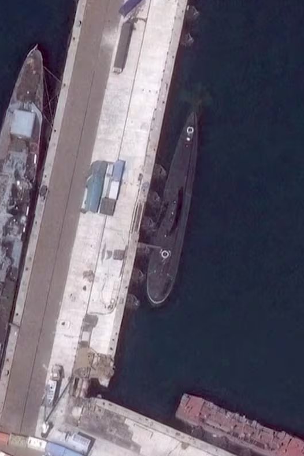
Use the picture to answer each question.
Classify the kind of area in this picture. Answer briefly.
port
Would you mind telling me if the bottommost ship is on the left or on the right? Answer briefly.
right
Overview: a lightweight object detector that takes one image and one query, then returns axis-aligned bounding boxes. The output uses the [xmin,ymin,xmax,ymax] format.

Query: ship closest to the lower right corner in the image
[177,393,304,456]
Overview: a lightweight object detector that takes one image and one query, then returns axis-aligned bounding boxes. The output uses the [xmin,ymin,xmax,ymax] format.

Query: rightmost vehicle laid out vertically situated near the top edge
[114,22,132,79]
